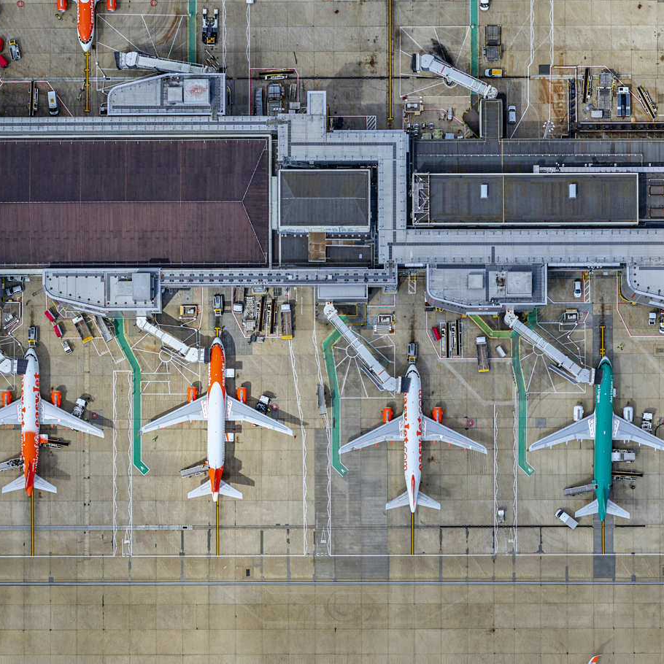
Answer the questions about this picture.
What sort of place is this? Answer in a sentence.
What you see here is an airport.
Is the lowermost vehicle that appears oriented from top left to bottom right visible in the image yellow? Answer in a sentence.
No, the color of the lowermost vehicle that appears oriented from top left to bottom right is white.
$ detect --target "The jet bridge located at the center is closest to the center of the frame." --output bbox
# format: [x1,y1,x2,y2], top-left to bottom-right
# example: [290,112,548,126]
[321,301,416,394]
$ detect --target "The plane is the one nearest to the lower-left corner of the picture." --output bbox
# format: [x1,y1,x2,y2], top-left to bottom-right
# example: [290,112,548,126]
[0,348,105,497]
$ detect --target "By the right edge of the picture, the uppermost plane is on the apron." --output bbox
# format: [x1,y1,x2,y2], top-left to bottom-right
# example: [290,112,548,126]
[529,357,664,522]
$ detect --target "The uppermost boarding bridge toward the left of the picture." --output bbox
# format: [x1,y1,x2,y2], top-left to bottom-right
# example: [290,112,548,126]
[107,49,219,74]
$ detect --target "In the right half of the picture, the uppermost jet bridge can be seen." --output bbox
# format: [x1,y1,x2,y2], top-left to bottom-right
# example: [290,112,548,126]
[404,53,498,99]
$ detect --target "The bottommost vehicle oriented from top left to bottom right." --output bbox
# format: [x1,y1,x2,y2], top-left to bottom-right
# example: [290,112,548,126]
[555,508,578,531]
